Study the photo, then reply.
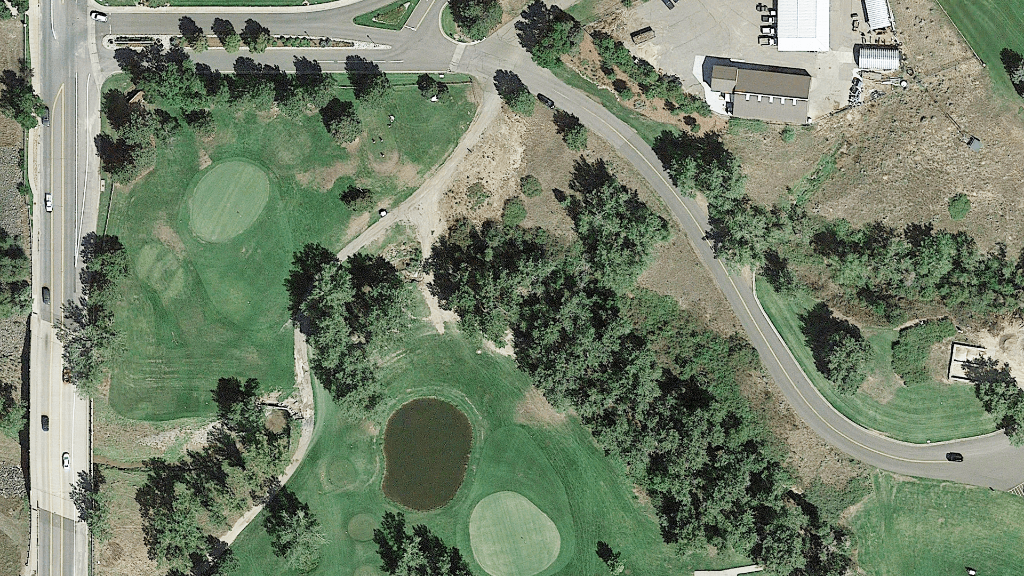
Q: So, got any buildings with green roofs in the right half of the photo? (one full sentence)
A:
No, looking in the right half of the photo, there is no building with a green roof.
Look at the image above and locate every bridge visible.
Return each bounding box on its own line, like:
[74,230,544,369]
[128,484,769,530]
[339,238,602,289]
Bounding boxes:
[29,313,93,525]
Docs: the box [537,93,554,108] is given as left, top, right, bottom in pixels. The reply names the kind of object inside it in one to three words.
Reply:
car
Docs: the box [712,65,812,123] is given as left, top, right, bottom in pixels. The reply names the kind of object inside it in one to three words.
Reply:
building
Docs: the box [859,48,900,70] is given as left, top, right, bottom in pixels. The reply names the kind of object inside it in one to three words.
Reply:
shed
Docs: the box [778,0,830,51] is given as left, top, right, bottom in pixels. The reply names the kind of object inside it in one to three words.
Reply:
building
